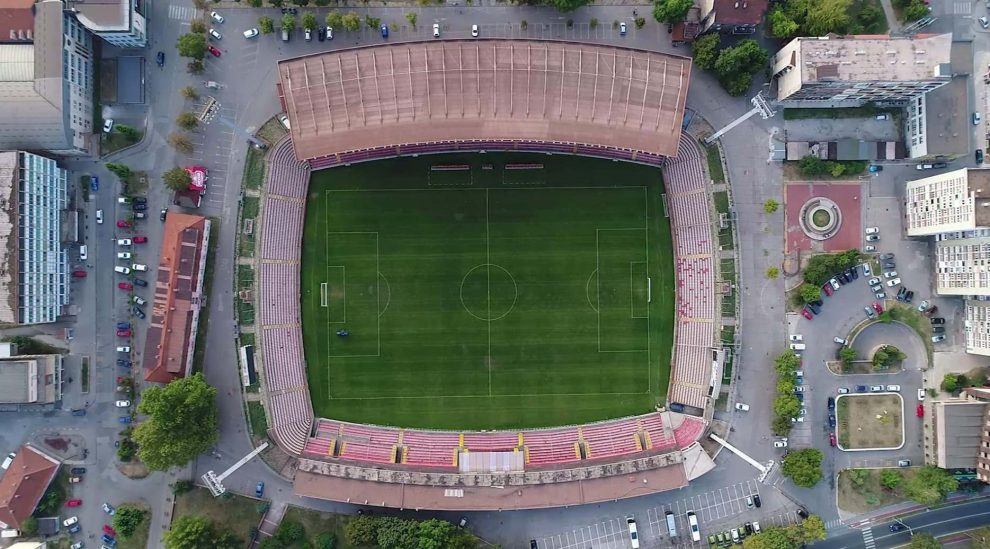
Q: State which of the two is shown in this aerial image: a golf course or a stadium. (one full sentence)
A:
There is a stadium in the scene.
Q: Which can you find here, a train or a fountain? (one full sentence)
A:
The one in the frame is a fountain.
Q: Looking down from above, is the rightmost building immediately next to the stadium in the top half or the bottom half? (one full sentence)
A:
It is in the top half that the rightmost building immediately next to the stadium appears.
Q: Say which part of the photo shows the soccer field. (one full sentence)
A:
You can find the soccer field in the center area of the picture.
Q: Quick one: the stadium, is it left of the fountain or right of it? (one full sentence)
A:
In the image, the stadium sits on the left side of the fountain.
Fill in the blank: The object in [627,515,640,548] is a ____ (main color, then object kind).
white vehicle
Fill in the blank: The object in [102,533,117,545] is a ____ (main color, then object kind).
blue vehicle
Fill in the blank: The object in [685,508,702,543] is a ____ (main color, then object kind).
white vehicle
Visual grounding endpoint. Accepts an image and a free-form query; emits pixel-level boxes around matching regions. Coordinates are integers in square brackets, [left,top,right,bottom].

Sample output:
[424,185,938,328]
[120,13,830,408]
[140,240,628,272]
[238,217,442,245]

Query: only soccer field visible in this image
[300,151,676,432]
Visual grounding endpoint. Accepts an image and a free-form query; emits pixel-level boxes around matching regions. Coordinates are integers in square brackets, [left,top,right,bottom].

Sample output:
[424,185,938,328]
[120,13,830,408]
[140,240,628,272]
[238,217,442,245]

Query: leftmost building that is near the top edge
[0,0,101,161]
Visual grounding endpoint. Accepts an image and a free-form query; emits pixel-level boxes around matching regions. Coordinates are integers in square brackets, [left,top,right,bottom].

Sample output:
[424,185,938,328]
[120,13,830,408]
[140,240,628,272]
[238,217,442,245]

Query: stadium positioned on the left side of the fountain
[259,39,716,512]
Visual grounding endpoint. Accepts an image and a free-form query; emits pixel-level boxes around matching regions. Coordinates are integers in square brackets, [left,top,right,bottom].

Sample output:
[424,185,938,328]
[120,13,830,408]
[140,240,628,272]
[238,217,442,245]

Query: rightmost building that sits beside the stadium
[771,35,954,106]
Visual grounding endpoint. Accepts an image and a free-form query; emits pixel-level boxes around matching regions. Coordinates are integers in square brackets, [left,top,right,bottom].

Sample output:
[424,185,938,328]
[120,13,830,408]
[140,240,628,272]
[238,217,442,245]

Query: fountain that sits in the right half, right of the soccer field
[800,196,842,240]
